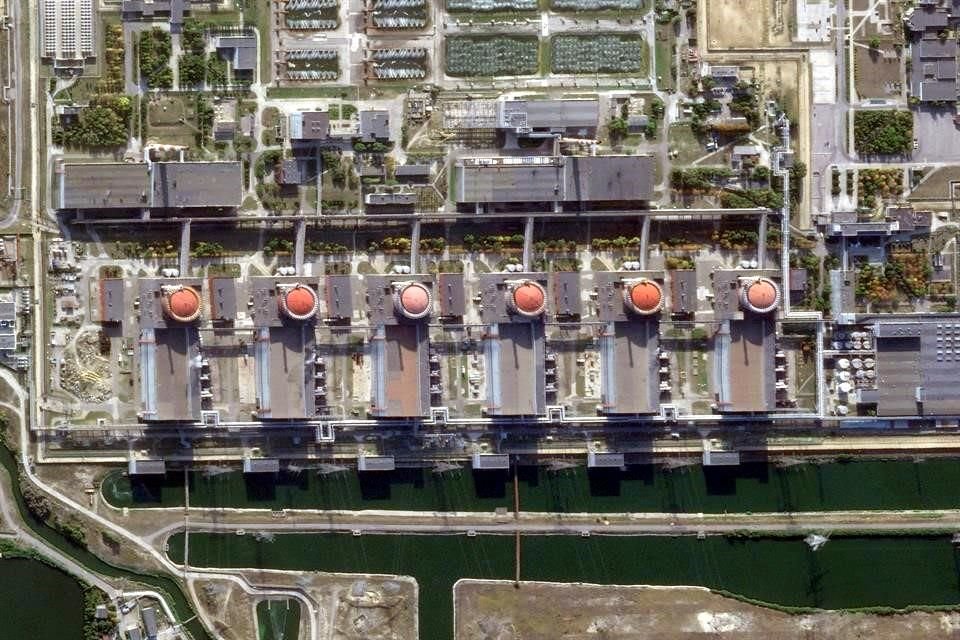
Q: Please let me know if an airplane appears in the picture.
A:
No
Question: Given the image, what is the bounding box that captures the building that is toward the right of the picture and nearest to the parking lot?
[917,82,957,100]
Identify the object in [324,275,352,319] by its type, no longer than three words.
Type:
building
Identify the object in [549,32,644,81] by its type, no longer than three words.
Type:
pond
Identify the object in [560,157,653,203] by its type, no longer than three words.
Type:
building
